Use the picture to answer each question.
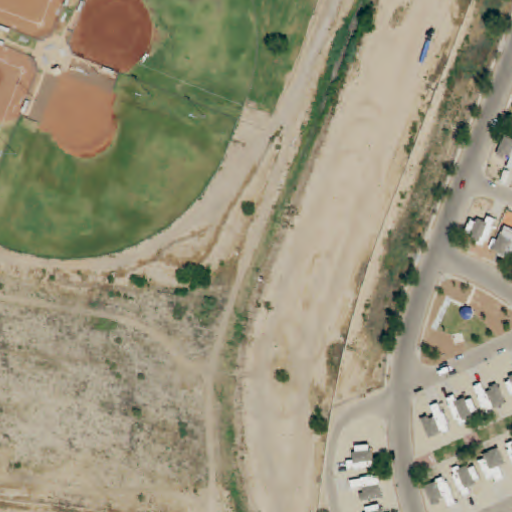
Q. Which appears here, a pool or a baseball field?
baseball field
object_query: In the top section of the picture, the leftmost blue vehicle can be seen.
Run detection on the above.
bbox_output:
[418,30,432,61]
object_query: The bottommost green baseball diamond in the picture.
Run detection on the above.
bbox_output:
[0,69,243,258]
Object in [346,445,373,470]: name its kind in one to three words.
house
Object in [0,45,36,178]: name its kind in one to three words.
baseball field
